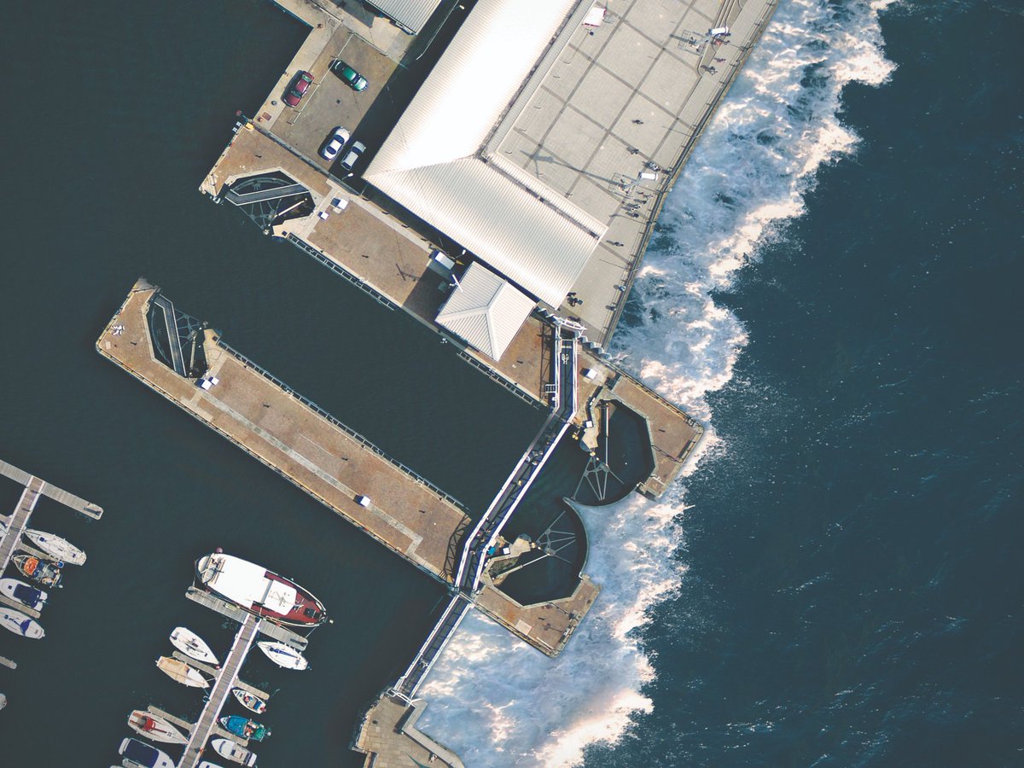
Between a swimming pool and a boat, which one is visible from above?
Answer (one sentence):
This aerial view contains a boat.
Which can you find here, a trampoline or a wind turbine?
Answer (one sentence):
The one in the frame is a wind turbine.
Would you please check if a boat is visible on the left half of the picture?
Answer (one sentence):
Yes, looking on the left half of the picture, one can make out a boat.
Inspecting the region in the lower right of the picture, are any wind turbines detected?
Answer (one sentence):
No, looking in the lower right of the picture, there is no wind turbine.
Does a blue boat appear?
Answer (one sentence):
Yes, the image includes a blue boat.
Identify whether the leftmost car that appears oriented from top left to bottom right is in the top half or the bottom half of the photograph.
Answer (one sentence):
The leftmost car that appears oriented from top left to bottom right sits in the top half of the picture.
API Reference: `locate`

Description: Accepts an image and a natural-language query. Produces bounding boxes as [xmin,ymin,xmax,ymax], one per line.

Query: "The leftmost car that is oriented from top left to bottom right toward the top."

[331,58,366,90]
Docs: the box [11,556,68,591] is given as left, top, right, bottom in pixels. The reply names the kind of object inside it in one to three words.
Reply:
boat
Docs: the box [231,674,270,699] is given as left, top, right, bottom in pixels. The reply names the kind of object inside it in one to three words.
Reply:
pier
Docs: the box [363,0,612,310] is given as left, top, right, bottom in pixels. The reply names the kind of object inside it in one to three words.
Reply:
building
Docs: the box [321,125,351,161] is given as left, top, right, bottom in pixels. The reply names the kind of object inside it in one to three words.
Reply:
car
